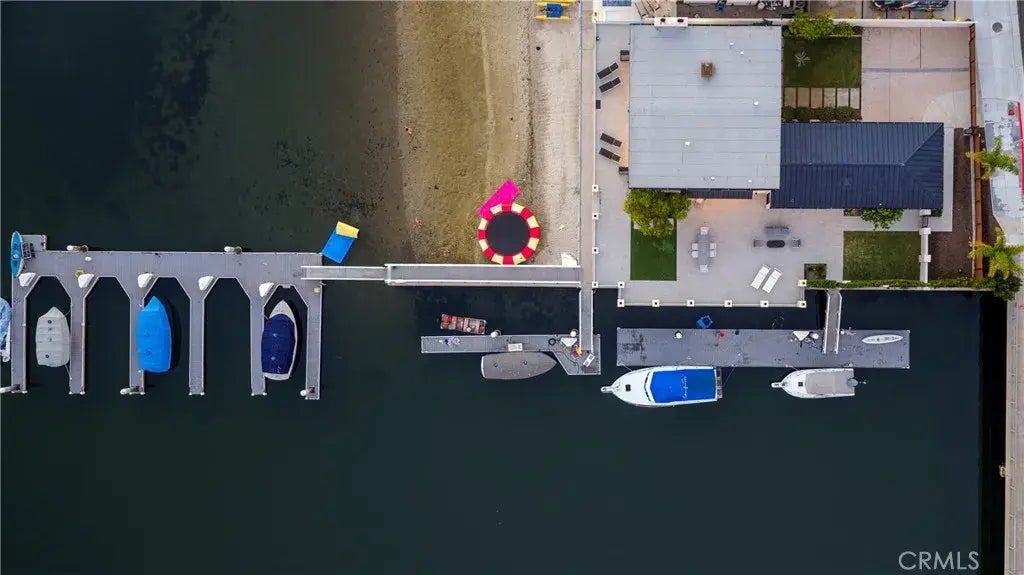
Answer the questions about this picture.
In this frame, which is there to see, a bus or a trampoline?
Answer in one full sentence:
The one in the frame is a trampoline.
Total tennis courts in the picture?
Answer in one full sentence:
I count no tennis courts.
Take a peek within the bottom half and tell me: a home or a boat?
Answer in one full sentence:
The one visible within the bottom half is a boat.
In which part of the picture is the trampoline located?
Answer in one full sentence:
Look in the center portion of the view to spot the trampoline.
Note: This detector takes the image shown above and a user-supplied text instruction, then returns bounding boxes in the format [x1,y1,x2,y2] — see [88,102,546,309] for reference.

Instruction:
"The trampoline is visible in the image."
[477,203,541,264]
